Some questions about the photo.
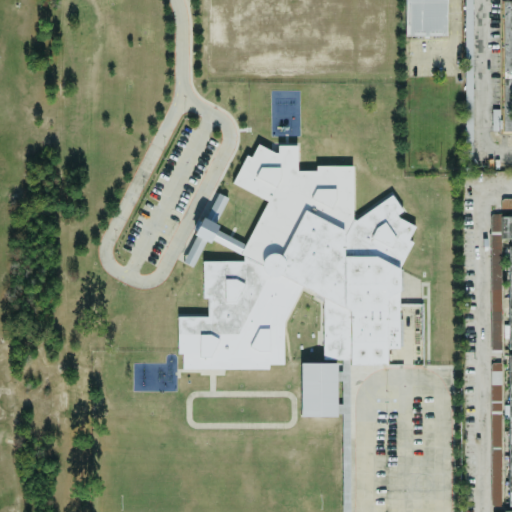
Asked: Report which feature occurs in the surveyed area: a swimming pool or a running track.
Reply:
running track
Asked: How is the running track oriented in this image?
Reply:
from left to right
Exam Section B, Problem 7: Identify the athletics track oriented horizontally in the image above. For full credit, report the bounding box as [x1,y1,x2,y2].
[186,391,298,429]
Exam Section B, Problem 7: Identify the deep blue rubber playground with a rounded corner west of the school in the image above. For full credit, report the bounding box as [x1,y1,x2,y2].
[134,354,178,392]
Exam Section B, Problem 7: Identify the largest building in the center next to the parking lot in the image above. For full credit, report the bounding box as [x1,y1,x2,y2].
[178,144,418,370]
